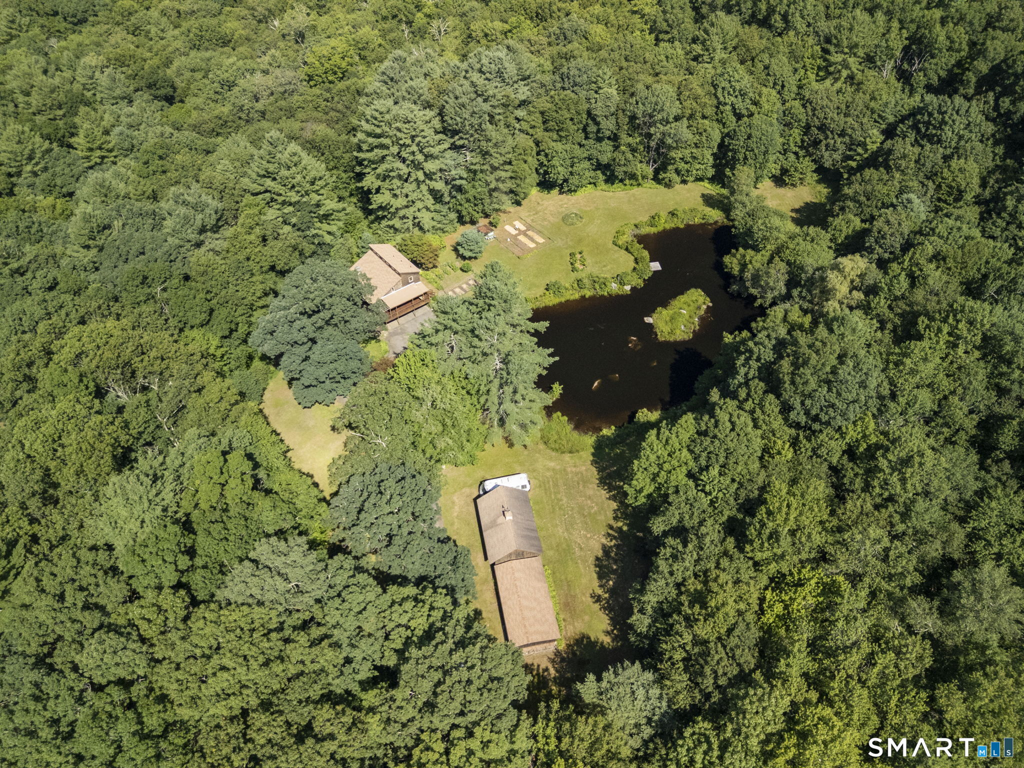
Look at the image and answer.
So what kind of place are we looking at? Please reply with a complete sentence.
What you see here is a forest.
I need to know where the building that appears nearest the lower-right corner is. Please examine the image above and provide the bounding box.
[476,485,560,653]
